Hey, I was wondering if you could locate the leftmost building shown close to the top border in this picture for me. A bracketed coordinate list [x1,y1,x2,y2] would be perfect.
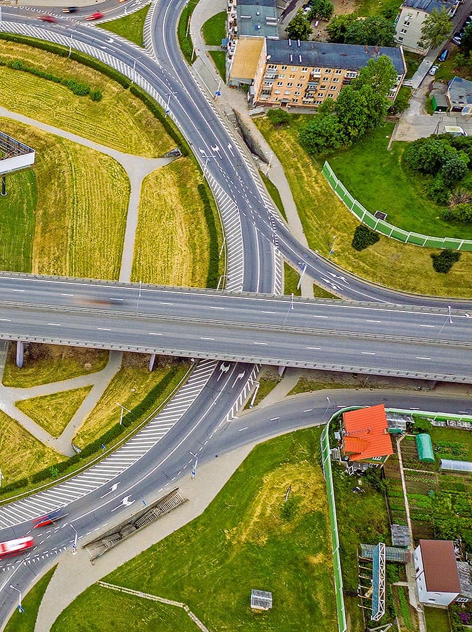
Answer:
[224,0,279,82]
